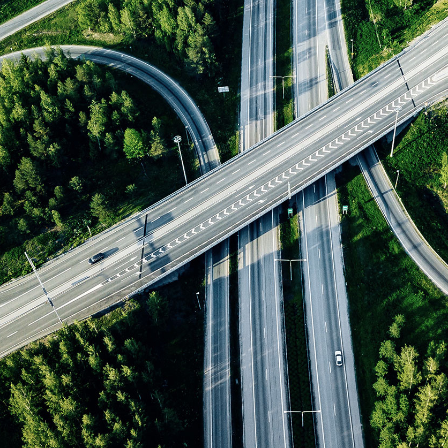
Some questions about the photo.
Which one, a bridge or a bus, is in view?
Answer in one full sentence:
Of the two, only a bridge appears.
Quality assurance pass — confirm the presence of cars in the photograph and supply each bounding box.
[86,250,103,264]
[333,350,343,367]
